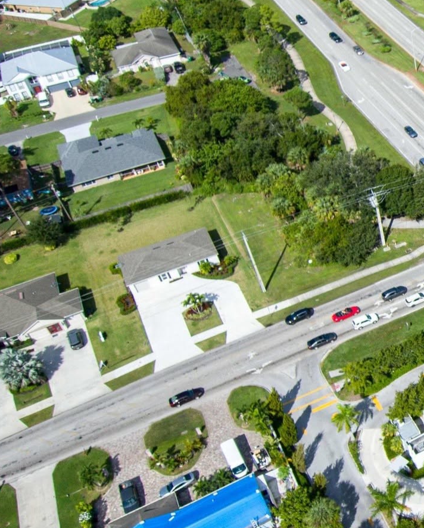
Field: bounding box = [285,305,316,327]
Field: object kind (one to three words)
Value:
car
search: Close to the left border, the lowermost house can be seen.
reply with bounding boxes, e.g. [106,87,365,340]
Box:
[0,269,87,347]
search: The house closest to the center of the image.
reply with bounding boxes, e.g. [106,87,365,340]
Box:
[121,226,218,293]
